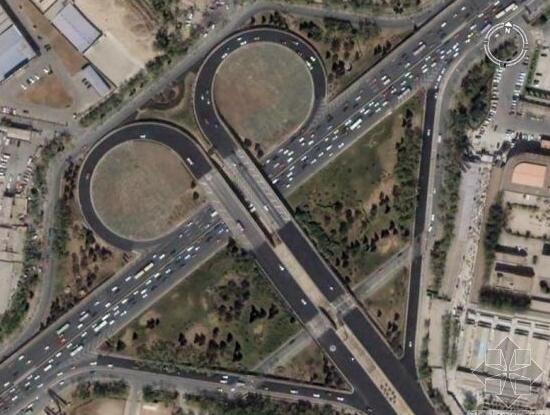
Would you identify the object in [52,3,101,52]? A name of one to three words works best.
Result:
building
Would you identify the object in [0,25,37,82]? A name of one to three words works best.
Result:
building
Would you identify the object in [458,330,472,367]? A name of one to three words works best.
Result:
shed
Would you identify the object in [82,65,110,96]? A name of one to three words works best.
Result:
shed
